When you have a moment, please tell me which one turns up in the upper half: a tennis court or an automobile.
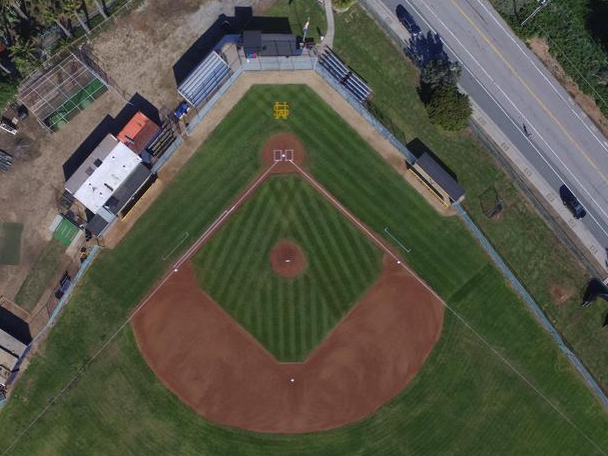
automobile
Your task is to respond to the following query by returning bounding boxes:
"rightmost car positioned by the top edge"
[400,9,423,37]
